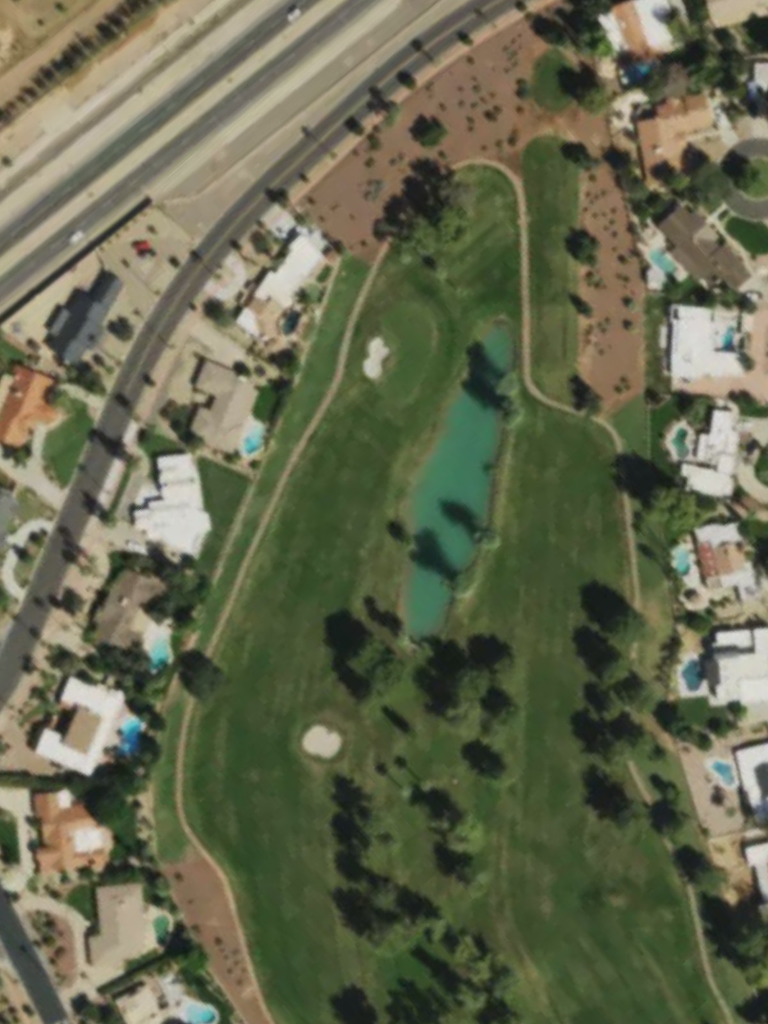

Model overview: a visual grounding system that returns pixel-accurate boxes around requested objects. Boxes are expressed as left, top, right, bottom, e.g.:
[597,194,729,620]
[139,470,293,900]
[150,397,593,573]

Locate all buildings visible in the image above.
[655,196,759,290]
[133,453,211,559]
[237,225,327,336]
[706,628,768,706]
[746,843,768,897]
[0,363,60,449]
[682,409,739,497]
[91,571,165,644]
[42,265,128,364]
[672,306,744,382]
[695,523,756,601]
[0,487,23,543]
[639,97,719,181]
[31,789,115,873]
[35,677,124,776]
[736,744,768,809]
[189,357,260,454]
[603,0,684,58]
[86,884,144,967]
[755,61,768,114]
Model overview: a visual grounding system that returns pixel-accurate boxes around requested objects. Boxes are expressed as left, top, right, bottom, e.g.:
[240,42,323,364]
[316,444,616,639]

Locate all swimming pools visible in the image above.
[106,712,141,755]
[144,906,174,948]
[241,418,264,454]
[178,997,221,1024]
[639,225,688,289]
[280,307,302,339]
[707,756,737,788]
[143,622,174,667]
[678,650,712,698]
[671,540,709,613]
[664,420,698,463]
[616,58,654,89]
[720,327,737,351]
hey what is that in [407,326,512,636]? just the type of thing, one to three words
pond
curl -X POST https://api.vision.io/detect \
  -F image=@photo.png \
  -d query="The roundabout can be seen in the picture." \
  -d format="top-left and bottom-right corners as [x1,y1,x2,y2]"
[719,138,768,220]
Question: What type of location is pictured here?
golf course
